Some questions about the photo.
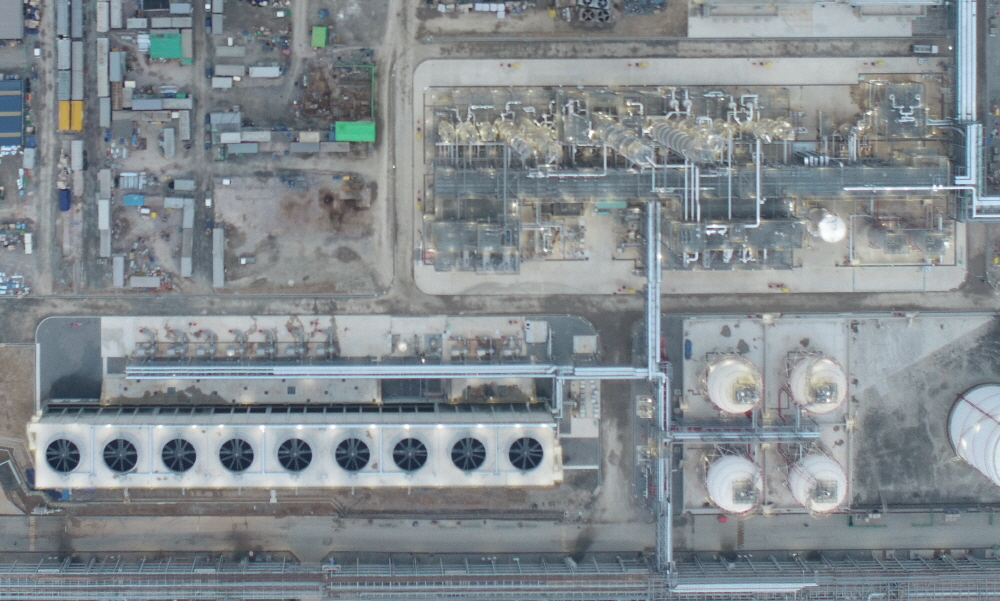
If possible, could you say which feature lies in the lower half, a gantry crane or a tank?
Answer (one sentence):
There is a tank in the lower half.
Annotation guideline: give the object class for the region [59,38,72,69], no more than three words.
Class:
building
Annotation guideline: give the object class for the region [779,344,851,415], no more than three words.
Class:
storage tank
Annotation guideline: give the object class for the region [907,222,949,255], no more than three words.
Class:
storage tank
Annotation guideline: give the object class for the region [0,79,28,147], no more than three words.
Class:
shed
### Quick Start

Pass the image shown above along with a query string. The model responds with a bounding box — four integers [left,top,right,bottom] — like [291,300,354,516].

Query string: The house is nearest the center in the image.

[523,318,548,343]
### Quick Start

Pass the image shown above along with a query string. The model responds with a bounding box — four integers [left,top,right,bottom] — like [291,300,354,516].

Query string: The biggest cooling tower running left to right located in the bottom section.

[25,404,564,494]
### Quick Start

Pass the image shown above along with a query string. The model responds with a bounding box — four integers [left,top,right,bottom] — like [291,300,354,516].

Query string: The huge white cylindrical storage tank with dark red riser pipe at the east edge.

[946,380,1000,490]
